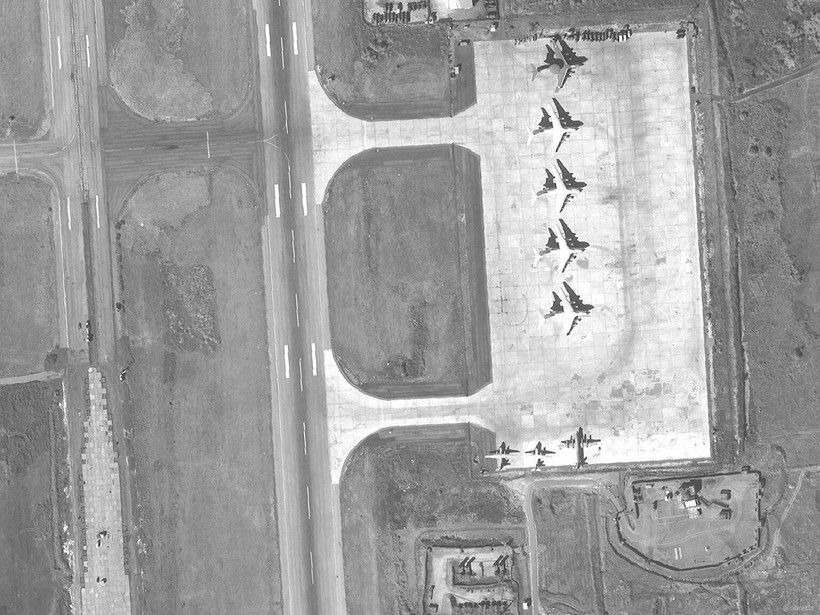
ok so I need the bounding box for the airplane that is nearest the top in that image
[529,39,585,93]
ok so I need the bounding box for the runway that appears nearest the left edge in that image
[30,0,114,364]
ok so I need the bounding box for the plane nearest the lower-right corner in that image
[557,431,597,471]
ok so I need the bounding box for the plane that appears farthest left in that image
[485,445,516,472]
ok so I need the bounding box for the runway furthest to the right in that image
[252,0,346,615]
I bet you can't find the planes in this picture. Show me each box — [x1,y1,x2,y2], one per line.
[536,287,592,341]
[557,431,597,471]
[485,445,516,472]
[531,225,587,279]
[521,444,552,472]
[529,39,585,93]
[529,165,585,219]
[525,103,581,157]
